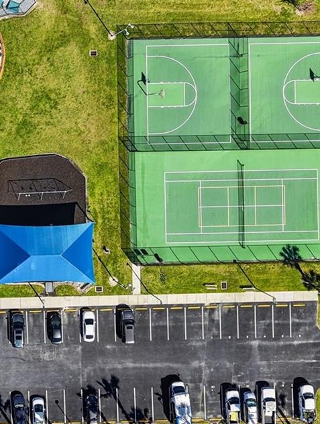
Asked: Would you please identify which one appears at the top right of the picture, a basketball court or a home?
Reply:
basketball court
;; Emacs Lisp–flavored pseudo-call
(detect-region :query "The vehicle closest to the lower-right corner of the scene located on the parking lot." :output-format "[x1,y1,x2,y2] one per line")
[297,383,316,424]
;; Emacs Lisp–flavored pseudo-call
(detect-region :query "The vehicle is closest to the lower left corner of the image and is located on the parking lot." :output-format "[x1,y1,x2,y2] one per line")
[12,394,26,424]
